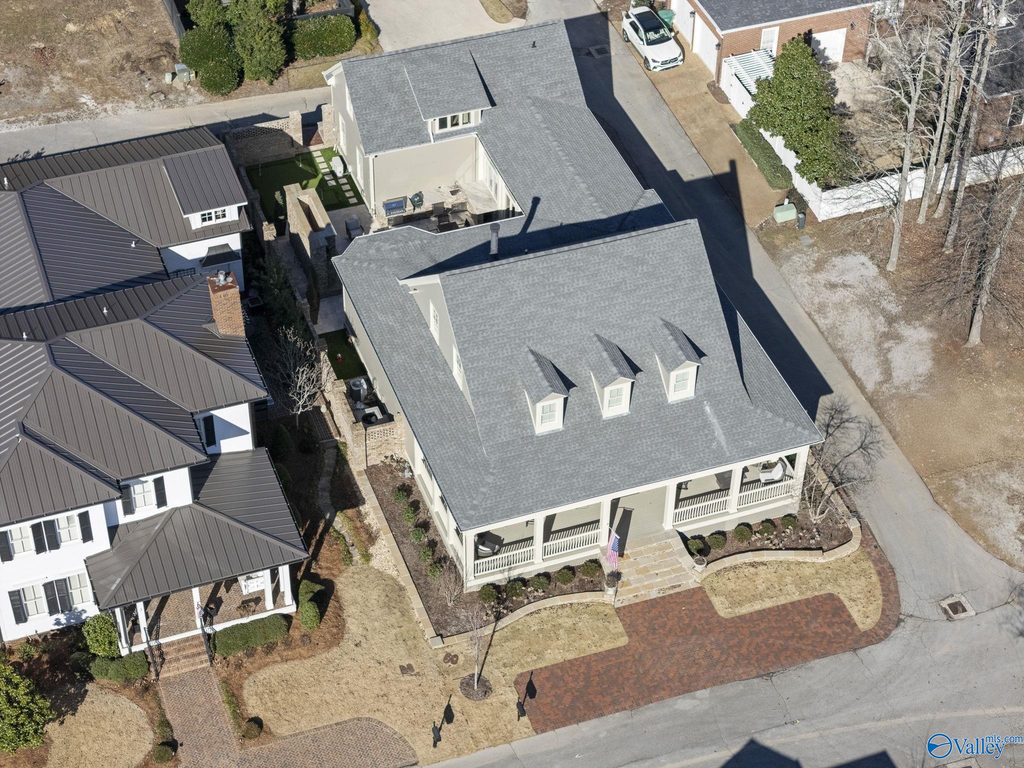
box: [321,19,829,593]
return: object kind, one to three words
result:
house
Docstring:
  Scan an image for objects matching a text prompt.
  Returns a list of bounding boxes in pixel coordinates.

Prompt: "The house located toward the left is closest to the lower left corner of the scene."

[0,125,313,661]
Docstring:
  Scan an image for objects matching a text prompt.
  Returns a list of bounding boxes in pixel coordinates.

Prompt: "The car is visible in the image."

[625,6,687,73]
